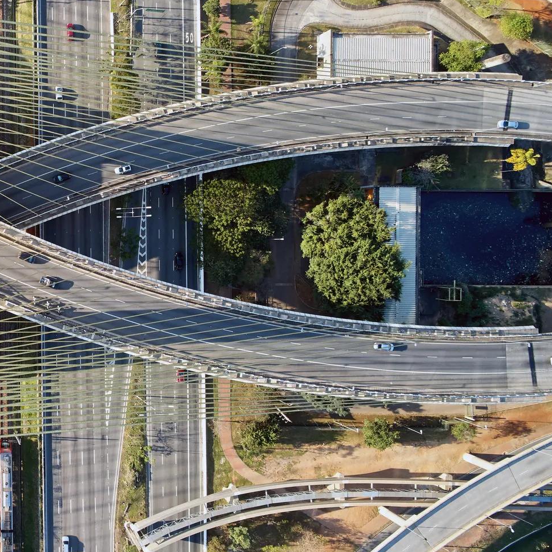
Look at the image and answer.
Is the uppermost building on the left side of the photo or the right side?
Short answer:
right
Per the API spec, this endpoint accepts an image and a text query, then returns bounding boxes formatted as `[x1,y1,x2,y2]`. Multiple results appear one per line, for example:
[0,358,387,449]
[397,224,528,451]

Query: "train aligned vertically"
[0,438,12,552]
